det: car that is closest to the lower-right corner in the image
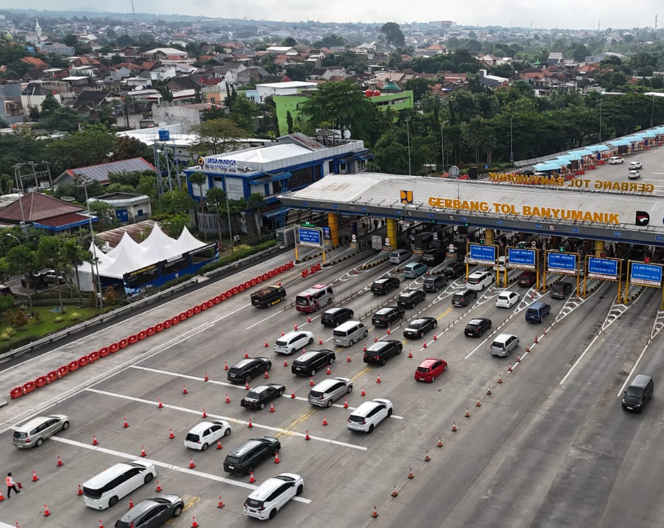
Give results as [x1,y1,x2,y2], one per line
[622,373,653,412]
